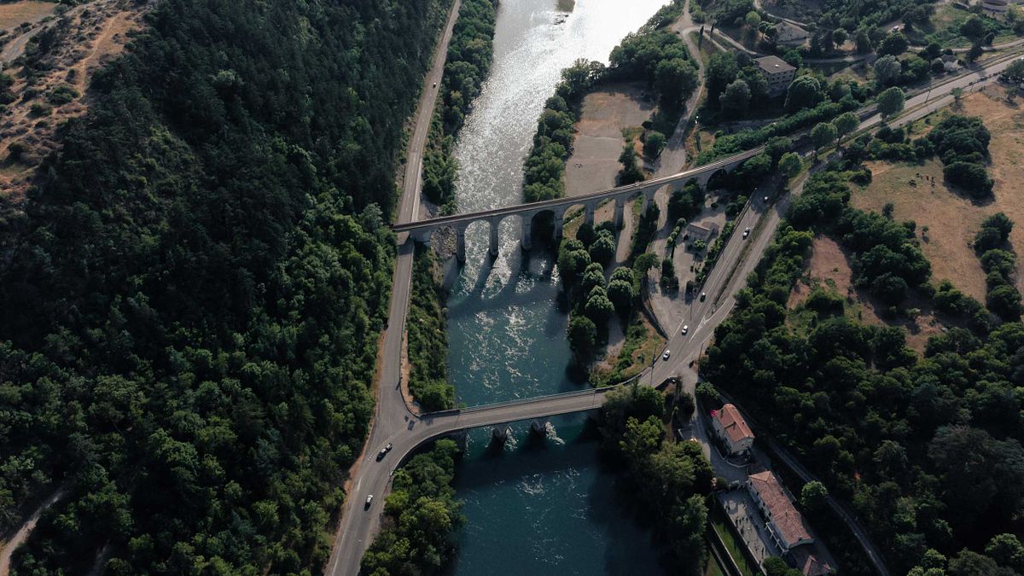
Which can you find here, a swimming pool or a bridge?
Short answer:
bridge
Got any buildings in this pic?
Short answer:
Yes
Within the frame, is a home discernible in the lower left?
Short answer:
No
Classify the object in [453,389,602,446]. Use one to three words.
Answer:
bridge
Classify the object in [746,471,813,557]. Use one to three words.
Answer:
house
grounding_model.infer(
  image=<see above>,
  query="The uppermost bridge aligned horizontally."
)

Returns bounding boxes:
[392,145,767,266]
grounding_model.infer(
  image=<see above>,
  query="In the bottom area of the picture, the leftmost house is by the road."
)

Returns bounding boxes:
[714,406,756,452]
